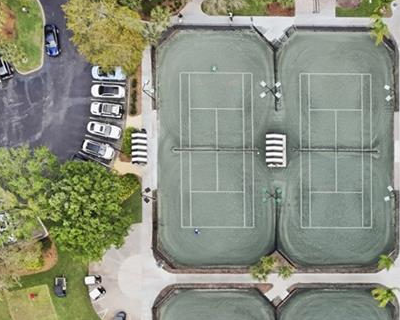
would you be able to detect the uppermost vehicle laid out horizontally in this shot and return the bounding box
[93,66,127,80]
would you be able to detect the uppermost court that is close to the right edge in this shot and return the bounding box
[276,32,395,267]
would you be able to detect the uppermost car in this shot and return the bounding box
[44,23,59,56]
